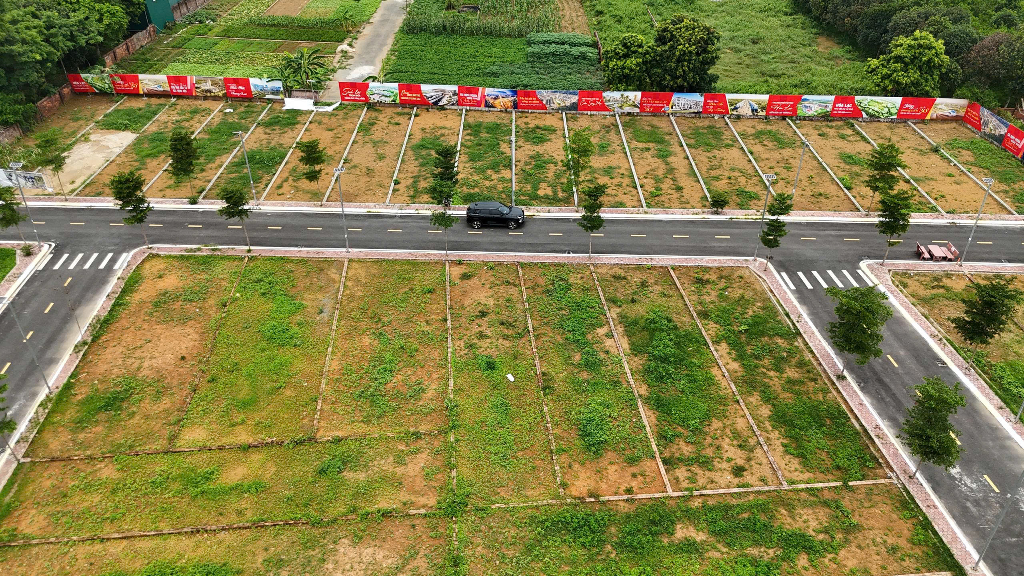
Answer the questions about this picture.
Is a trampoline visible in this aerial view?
No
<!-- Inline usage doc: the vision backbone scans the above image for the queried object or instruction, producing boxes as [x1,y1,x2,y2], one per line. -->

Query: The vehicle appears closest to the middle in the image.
[464,200,524,230]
